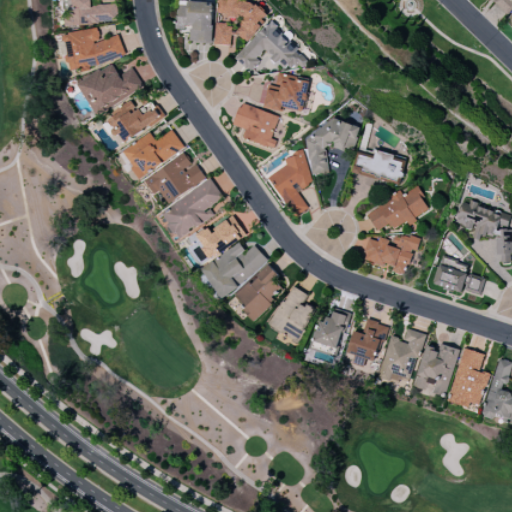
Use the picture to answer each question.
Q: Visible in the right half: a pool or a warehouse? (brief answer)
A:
pool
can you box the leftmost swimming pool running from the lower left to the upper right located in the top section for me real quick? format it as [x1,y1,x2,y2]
[262,151,290,174]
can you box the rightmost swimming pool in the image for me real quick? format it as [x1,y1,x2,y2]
[469,184,496,200]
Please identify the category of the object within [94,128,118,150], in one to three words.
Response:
swimming pool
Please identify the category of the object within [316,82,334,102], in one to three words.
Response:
swimming pool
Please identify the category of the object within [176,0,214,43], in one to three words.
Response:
house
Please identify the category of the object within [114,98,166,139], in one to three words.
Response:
house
